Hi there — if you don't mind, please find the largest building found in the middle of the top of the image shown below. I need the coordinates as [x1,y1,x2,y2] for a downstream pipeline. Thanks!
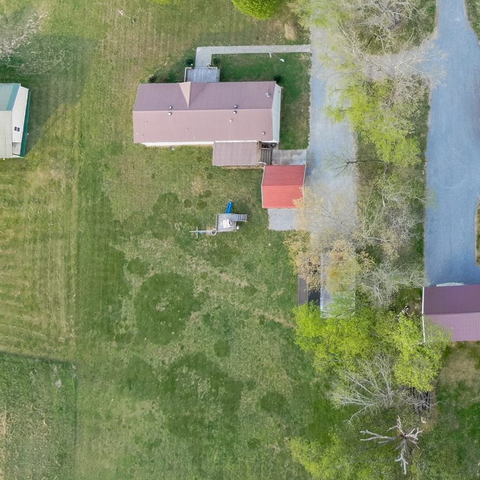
[132,63,280,166]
